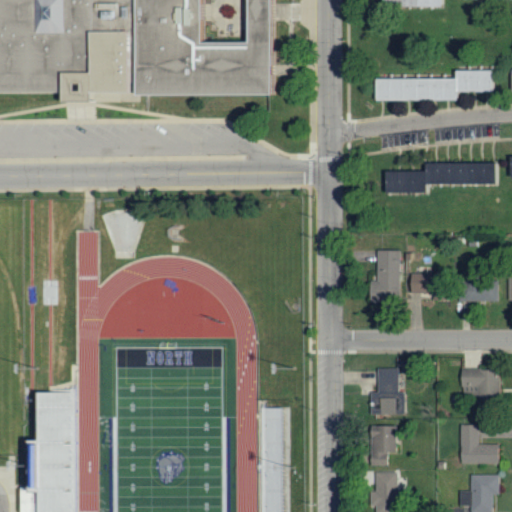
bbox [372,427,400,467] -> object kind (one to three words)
house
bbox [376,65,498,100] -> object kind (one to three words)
building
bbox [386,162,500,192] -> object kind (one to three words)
building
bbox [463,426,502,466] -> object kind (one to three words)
house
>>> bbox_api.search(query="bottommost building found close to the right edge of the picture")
[460,477,504,512]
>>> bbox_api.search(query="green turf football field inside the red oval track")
[100,338,236,512]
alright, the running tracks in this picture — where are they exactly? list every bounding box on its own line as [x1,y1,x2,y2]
[78,230,259,512]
